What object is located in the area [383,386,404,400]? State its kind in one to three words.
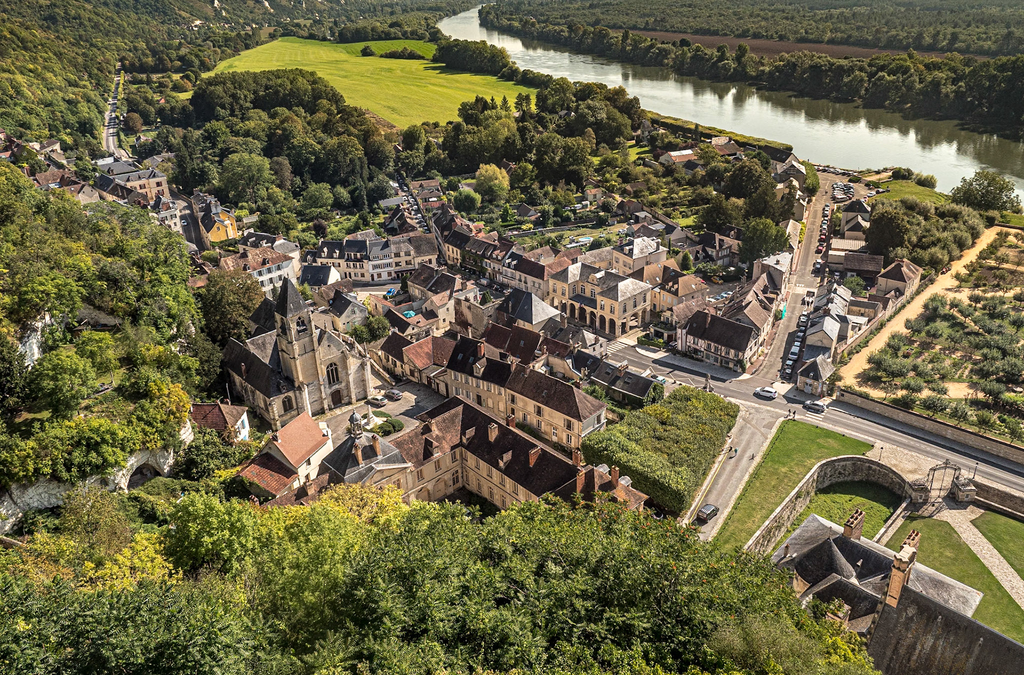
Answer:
car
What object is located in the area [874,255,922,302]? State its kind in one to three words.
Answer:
house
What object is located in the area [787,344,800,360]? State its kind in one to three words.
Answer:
vehicle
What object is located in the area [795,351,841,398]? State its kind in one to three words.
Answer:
building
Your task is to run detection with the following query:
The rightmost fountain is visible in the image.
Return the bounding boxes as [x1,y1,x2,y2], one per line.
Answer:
[699,370,717,392]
